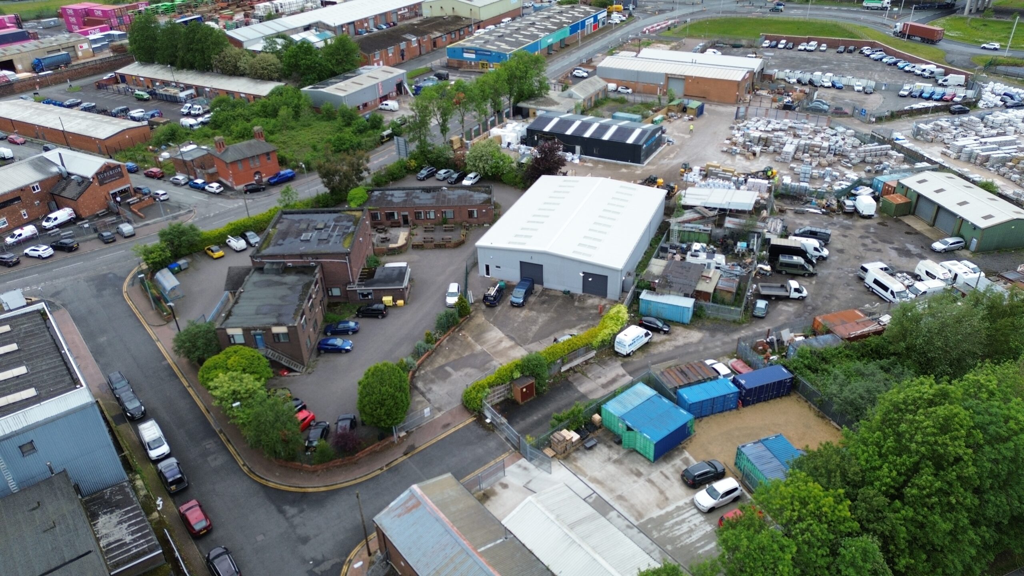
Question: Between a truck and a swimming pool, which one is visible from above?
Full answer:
It is a truck that can be seen here.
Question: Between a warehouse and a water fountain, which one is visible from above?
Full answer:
This aerial view contains a warehouse.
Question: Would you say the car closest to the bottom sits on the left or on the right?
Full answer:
The car closest to the bottom is on the left side of the image.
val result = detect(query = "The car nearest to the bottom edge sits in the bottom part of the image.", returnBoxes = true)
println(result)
[205,545,245,576]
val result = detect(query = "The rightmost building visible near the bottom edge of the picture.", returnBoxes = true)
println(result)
[504,481,672,576]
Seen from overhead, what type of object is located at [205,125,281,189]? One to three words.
house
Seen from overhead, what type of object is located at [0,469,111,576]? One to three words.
building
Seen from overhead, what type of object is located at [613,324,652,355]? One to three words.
van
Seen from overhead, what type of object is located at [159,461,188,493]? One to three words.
car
